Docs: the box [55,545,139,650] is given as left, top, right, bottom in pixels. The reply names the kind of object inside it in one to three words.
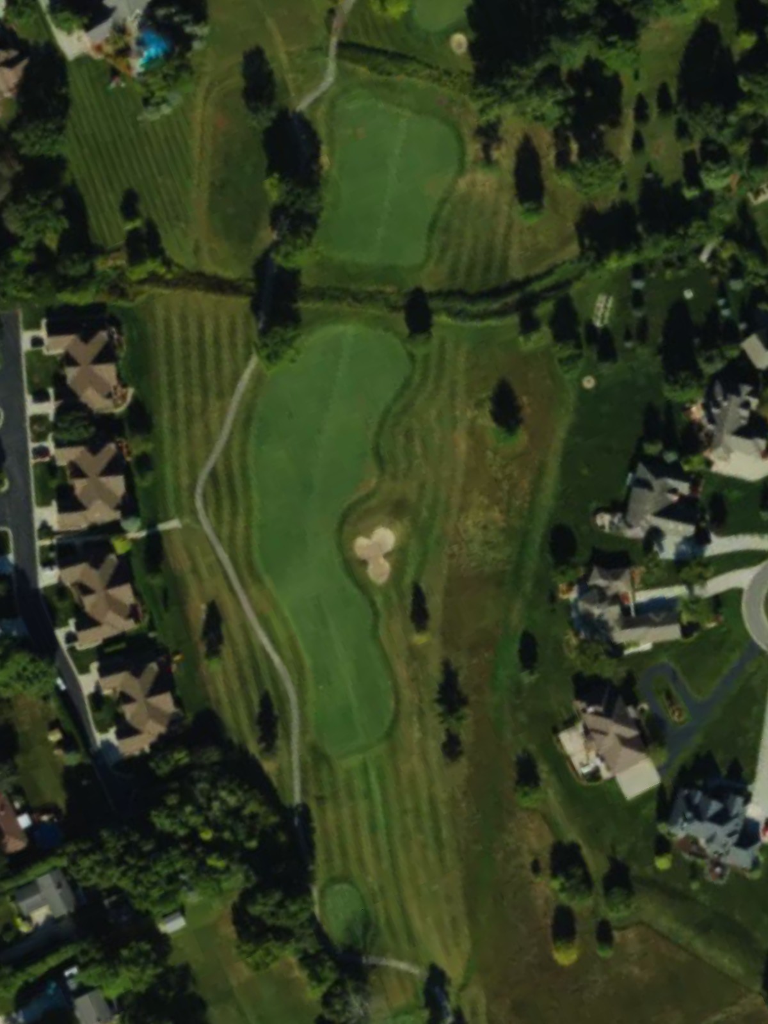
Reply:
house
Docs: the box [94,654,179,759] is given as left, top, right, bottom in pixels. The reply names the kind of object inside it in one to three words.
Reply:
house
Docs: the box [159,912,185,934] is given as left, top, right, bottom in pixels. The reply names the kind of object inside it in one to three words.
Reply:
shed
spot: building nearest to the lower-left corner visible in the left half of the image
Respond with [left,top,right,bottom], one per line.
[72,987,113,1024]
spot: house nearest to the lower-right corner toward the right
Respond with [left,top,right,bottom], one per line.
[668,786,764,863]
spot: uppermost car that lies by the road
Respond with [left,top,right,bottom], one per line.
[53,676,66,692]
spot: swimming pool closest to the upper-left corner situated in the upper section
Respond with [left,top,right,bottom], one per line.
[138,30,171,68]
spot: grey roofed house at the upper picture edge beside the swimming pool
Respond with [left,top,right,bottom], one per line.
[82,0,159,45]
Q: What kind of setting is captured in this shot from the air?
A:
golf course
